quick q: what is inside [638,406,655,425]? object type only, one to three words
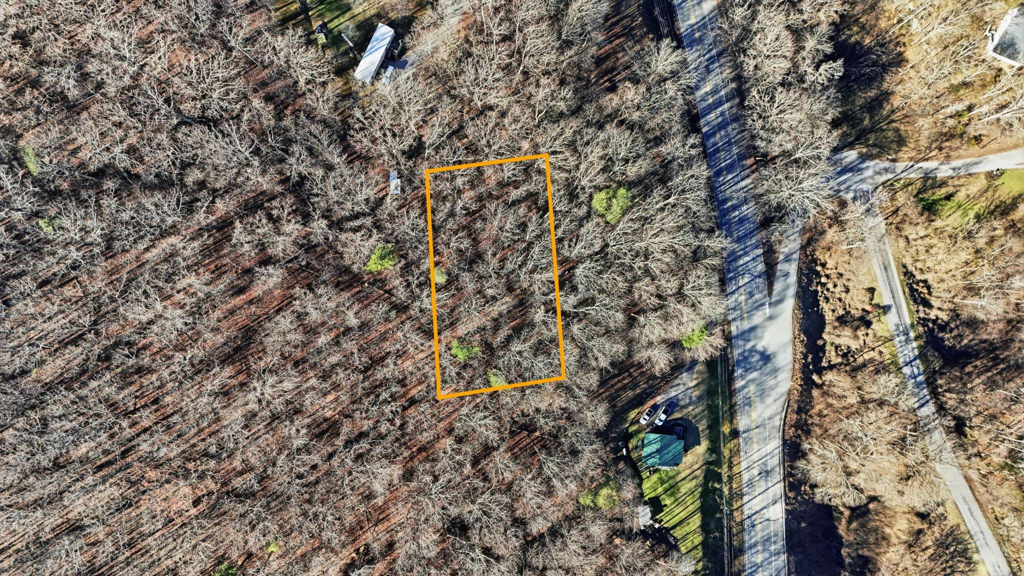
vehicle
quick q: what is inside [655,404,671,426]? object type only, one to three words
vehicle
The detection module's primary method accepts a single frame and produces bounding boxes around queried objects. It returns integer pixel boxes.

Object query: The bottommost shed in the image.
[637,503,653,529]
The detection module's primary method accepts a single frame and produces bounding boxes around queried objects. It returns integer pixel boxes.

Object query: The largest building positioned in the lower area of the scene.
[642,431,684,468]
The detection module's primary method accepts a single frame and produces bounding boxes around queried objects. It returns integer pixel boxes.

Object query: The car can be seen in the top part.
[383,65,396,85]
